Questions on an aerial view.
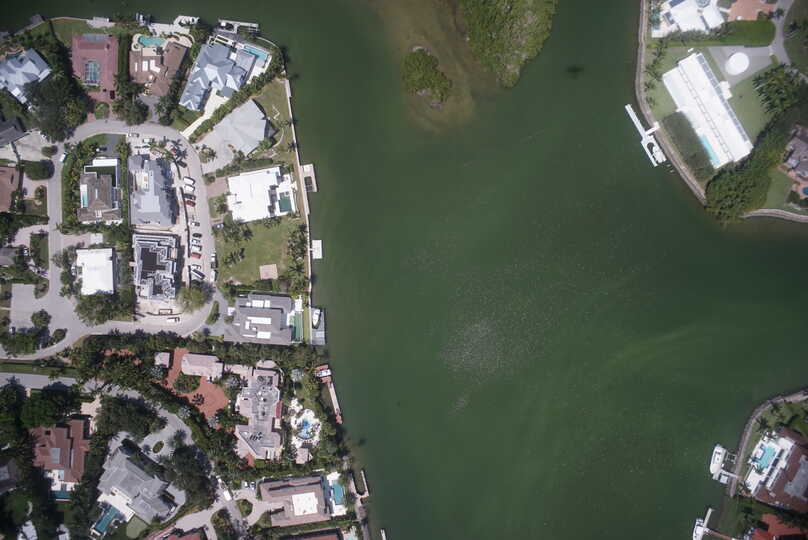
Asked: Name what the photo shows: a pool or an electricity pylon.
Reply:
pool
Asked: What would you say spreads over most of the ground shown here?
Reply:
water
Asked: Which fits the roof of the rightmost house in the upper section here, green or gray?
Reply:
gray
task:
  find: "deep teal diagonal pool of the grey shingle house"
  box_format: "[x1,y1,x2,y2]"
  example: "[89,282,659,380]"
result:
[94,506,118,534]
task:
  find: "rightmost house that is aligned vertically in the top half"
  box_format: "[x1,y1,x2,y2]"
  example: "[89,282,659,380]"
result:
[779,126,808,186]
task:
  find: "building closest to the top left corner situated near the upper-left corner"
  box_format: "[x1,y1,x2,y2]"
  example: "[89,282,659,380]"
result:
[0,47,51,106]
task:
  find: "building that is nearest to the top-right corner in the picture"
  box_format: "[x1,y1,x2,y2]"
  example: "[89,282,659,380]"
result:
[661,0,729,44]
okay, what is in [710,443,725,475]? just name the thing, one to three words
boat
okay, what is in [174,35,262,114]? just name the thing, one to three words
house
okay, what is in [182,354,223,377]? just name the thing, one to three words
building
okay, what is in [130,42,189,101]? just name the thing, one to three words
house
